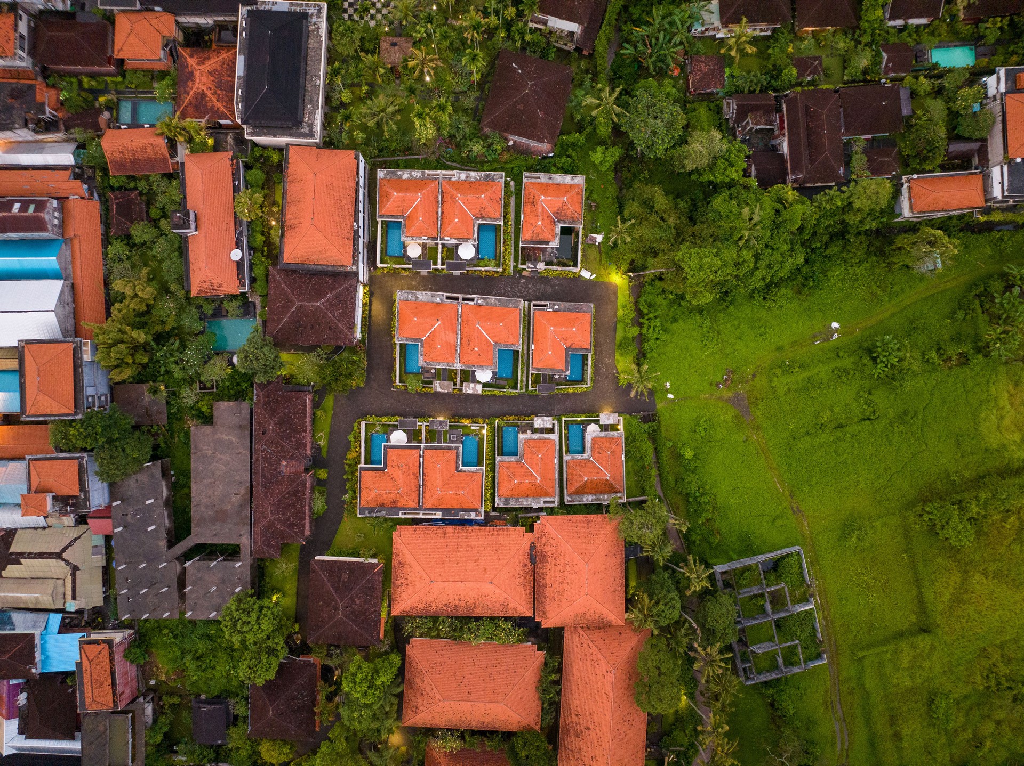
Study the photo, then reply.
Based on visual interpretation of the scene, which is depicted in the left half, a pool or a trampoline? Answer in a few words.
pool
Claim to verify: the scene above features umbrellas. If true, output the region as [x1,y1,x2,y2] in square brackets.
[587,422,600,433]
[458,243,475,260]
[390,428,407,443]
[475,370,492,384]
[407,244,421,258]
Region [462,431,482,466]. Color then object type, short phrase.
blue swimming pool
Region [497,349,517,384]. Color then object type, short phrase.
blue swimming pool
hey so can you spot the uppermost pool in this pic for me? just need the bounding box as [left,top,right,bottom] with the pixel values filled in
[928,43,978,70]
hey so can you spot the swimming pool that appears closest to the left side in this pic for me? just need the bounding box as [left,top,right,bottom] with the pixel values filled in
[114,97,177,127]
